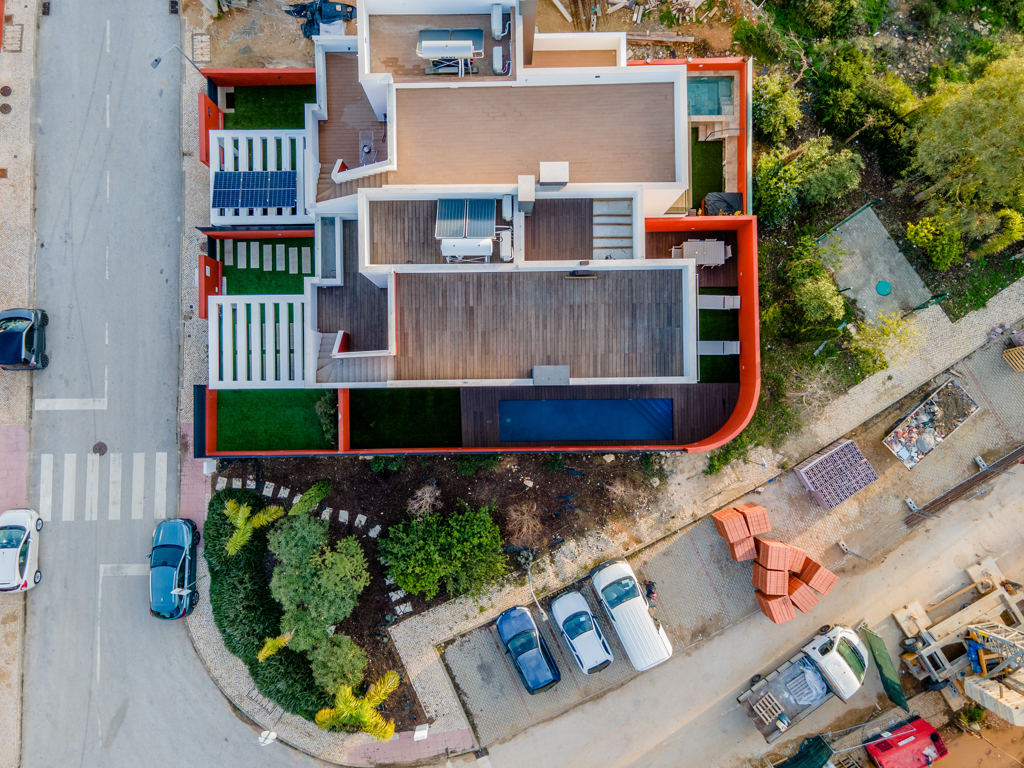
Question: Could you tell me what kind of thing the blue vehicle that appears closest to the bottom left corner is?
car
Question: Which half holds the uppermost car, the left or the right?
left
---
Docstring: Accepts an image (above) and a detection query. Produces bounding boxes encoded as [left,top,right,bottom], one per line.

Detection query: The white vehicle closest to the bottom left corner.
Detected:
[0,505,47,595]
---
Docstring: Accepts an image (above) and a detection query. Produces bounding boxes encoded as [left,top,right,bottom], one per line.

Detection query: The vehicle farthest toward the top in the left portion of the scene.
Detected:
[0,306,57,371]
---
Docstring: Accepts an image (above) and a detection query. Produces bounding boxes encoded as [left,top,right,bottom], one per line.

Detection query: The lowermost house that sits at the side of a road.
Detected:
[208,175,700,390]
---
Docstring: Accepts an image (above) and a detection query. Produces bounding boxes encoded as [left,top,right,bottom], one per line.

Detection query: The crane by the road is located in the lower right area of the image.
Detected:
[896,570,1024,700]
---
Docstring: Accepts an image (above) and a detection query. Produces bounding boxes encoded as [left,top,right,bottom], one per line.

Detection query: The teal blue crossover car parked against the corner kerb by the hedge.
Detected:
[136,515,197,621]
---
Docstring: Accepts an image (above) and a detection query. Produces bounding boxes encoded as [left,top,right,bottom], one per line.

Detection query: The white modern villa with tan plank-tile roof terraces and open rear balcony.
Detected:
[209,0,688,227]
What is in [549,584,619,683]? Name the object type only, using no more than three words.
car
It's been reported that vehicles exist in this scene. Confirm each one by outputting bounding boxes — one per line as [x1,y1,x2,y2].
[549,584,619,683]
[587,548,685,685]
[136,515,197,621]
[0,505,47,595]
[496,600,567,701]
[0,306,57,371]
[735,614,872,741]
